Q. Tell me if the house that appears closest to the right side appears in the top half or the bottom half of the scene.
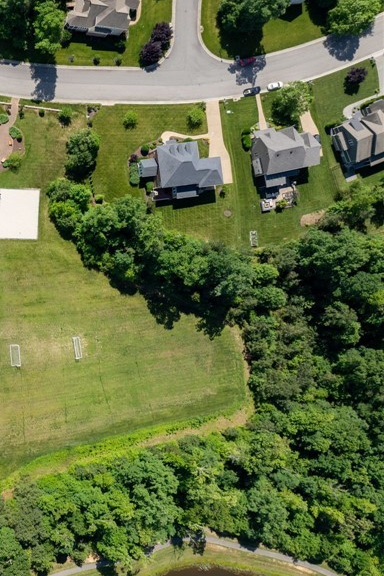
top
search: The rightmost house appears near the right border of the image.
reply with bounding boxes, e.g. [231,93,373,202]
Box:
[331,97,384,179]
